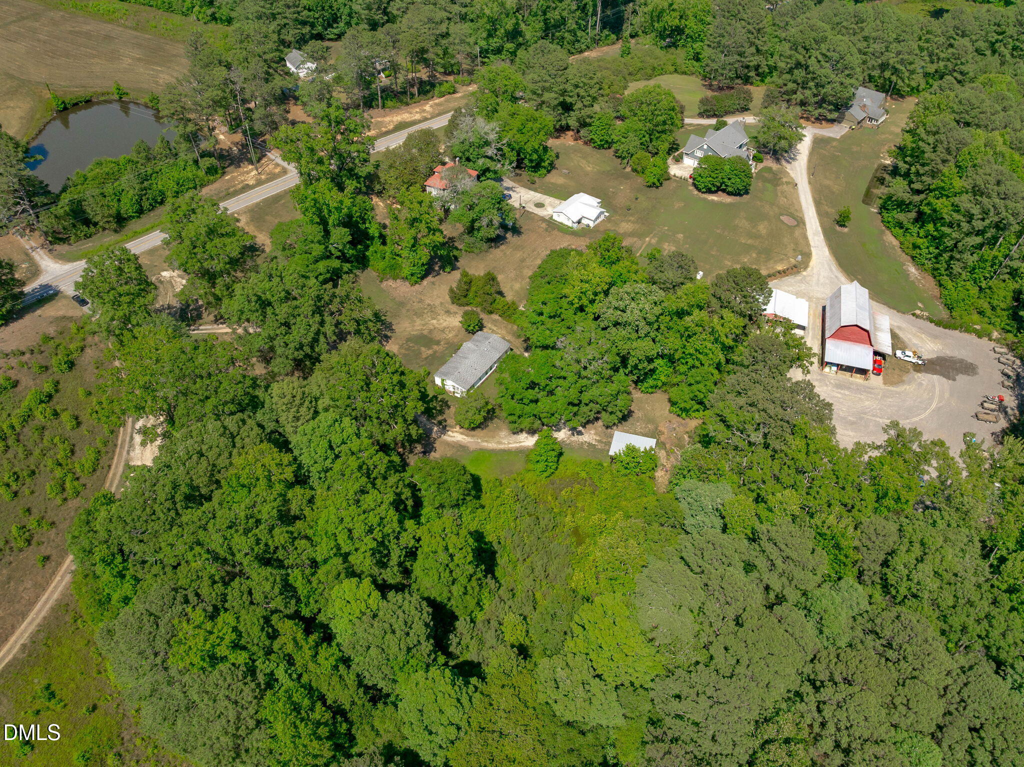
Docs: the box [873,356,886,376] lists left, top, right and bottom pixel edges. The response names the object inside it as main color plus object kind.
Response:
red vehicle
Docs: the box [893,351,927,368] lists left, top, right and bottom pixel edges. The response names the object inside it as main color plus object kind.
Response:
white vehicle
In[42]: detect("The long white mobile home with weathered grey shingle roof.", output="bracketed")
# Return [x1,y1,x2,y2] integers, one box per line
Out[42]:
[434,331,514,398]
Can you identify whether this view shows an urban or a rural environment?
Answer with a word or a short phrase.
rural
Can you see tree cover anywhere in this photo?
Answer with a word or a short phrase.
Yes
